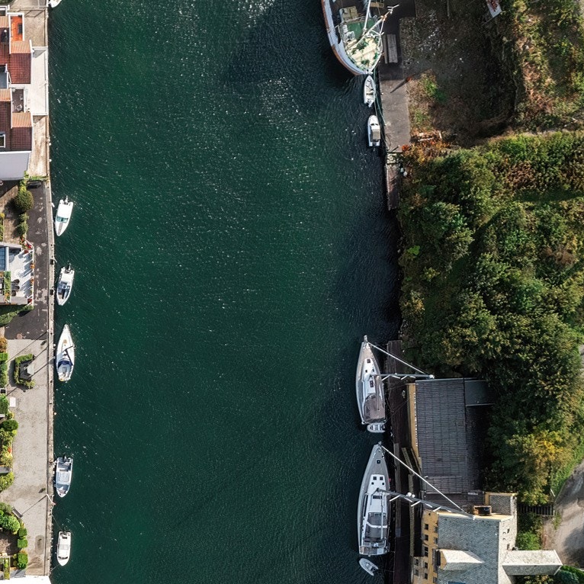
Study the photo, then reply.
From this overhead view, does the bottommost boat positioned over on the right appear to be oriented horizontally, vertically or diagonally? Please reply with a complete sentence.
Seen from above, the bottommost boat positioned over on the right lies diagonally.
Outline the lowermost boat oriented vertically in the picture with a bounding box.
[57,526,70,564]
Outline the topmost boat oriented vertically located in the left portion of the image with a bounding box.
[55,194,74,236]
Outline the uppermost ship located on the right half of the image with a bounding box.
[322,0,392,79]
